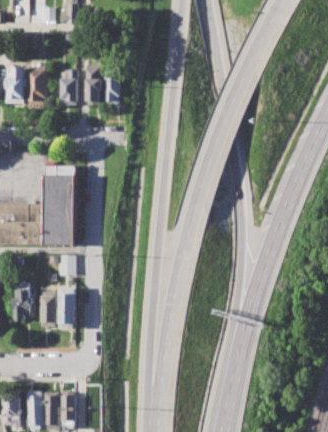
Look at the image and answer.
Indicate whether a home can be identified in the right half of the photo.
No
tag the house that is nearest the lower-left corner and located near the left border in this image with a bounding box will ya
[4,397,22,432]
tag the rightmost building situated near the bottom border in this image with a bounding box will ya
[62,394,76,429]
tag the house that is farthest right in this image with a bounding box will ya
[104,76,120,104]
